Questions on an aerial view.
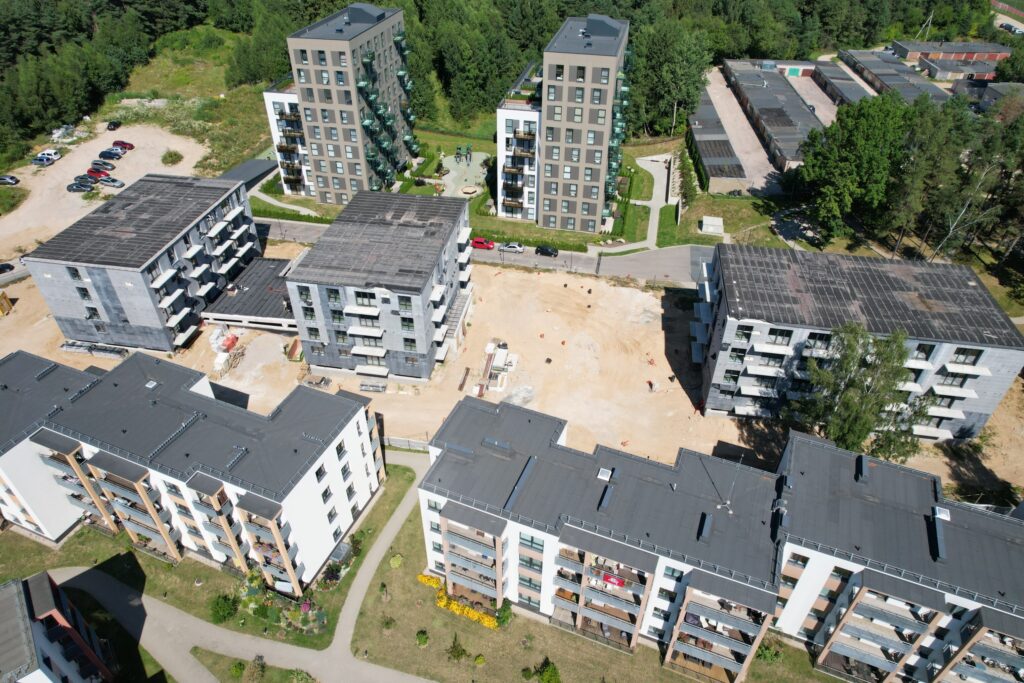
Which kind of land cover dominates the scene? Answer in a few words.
buildings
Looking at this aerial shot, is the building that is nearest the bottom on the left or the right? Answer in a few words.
left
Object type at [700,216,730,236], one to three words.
building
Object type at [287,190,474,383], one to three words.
building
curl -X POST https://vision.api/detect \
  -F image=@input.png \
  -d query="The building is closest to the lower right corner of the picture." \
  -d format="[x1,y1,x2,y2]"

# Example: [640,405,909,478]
[765,434,1024,683]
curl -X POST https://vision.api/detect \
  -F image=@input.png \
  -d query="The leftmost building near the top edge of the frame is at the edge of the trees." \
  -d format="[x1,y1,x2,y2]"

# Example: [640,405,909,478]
[262,3,420,205]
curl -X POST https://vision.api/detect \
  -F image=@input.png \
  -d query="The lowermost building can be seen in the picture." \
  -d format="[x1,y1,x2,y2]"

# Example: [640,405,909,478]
[0,570,108,683]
